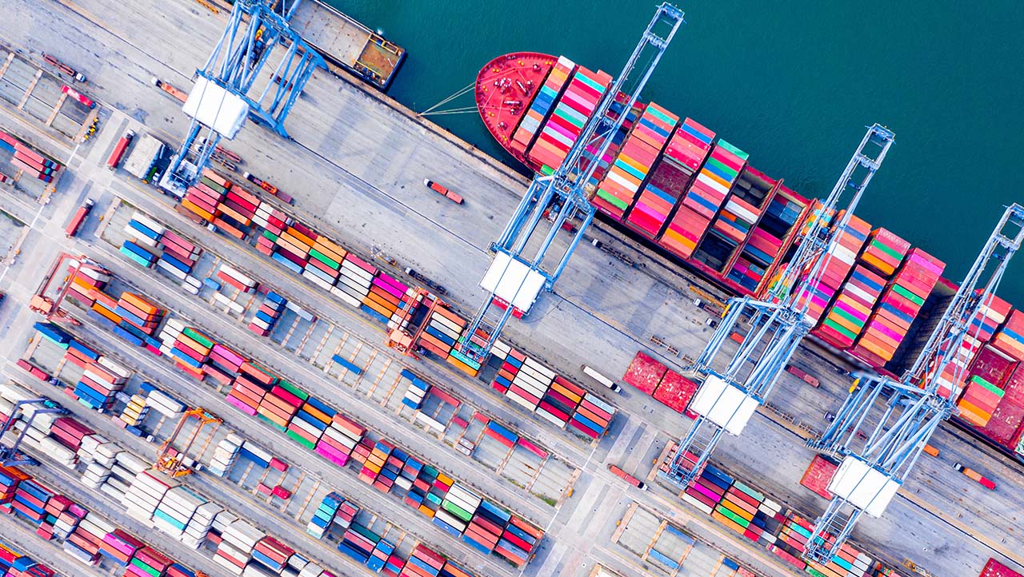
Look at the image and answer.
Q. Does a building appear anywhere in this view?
Yes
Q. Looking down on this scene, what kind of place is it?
port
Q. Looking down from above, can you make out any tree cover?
No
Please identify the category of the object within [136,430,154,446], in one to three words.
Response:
vehicle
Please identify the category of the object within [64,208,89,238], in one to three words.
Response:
shipping container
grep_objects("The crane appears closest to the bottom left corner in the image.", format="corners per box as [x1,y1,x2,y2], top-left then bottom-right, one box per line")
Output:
[0,390,71,464]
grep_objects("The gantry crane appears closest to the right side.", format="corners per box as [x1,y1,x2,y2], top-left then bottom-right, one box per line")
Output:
[799,198,1024,577]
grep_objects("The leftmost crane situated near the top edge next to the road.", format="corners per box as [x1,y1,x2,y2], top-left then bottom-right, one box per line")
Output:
[157,0,334,199]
